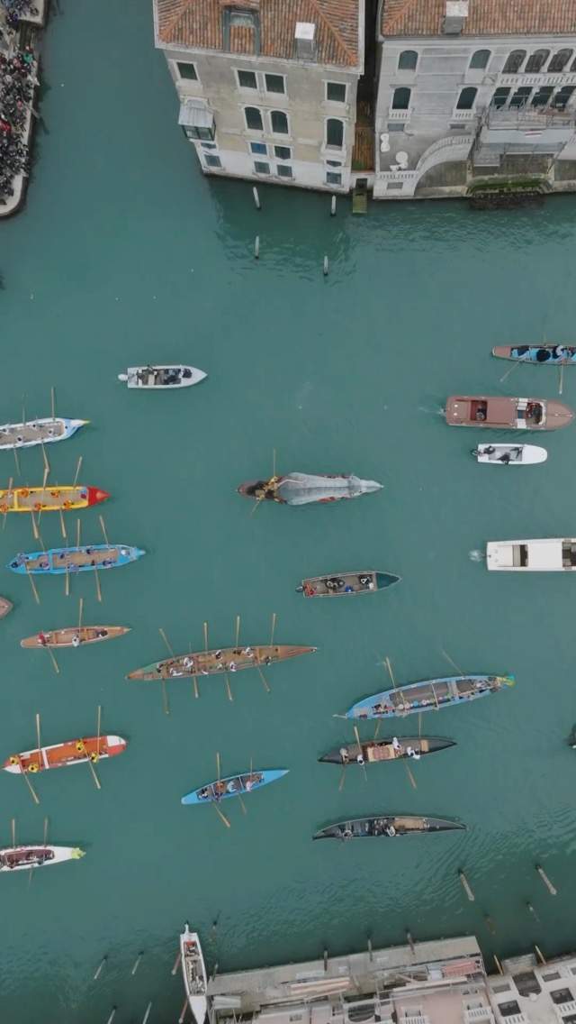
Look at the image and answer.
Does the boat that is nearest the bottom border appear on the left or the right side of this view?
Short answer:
left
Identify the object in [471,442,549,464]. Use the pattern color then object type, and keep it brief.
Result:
white boat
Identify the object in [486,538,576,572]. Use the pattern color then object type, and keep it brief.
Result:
white boat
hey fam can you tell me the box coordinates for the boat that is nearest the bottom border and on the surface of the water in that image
[178,924,208,1024]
